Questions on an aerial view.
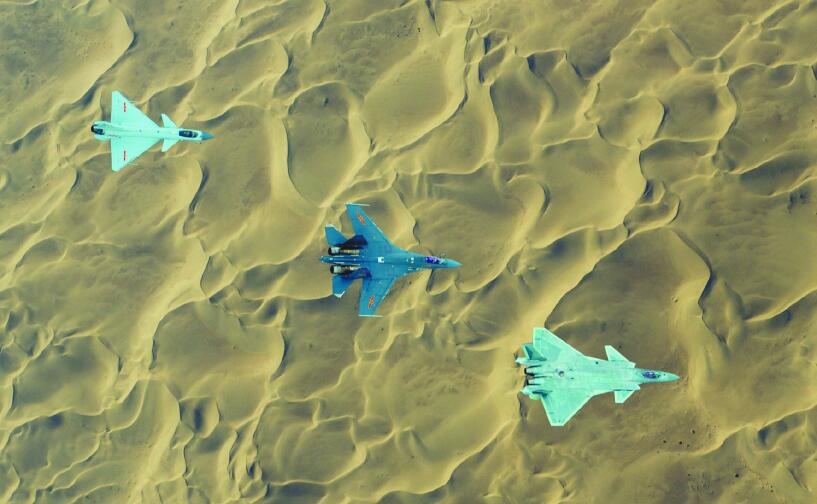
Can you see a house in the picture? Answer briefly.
No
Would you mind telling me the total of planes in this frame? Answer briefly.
3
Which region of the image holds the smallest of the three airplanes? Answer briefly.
top left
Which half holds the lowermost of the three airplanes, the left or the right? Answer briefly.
right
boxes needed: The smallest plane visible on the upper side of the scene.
[89,93,219,169]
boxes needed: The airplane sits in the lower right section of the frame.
[515,328,678,425]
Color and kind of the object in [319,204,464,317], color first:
blue airplane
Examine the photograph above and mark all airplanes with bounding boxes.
[319,204,464,317]
[515,328,678,425]
[89,93,219,169]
